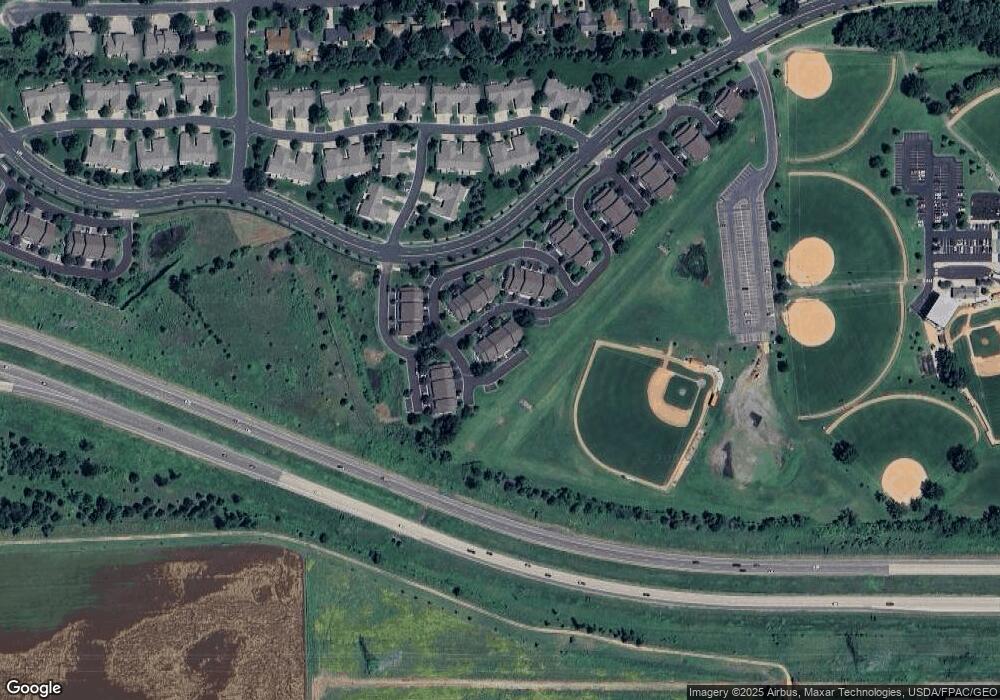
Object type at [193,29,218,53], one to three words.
house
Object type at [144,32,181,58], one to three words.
house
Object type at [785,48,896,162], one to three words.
baseball field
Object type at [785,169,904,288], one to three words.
baseball field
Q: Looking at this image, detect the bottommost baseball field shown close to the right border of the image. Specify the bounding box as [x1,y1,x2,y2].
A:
[824,394,984,510]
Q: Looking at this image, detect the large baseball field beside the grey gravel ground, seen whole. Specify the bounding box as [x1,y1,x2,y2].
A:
[573,338,724,490]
